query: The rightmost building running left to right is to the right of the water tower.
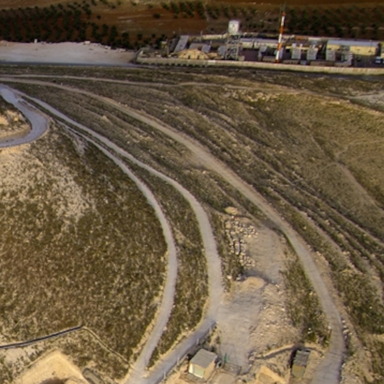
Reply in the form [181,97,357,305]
[323,36,384,55]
